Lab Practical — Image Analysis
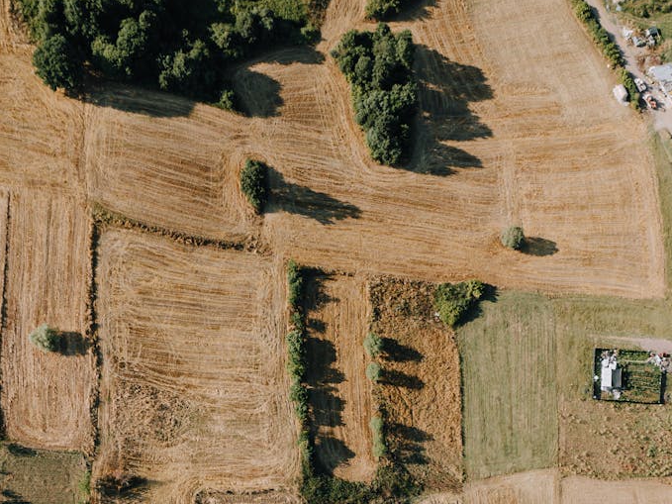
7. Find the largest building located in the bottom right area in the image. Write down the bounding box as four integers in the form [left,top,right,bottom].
[604,362,624,387]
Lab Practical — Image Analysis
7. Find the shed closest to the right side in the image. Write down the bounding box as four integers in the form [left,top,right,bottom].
[653,58,672,87]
